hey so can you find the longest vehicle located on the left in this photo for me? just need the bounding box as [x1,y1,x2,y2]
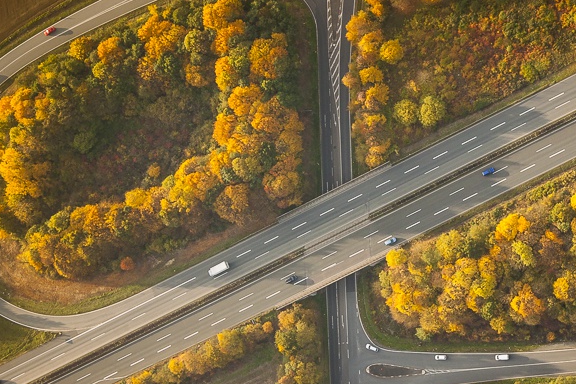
[210,262,228,275]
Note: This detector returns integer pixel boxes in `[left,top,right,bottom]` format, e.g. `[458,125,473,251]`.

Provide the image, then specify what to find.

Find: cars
[366,344,378,352]
[496,354,509,360]
[385,237,396,245]
[483,168,494,176]
[45,27,55,35]
[434,355,447,360]
[286,275,298,284]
